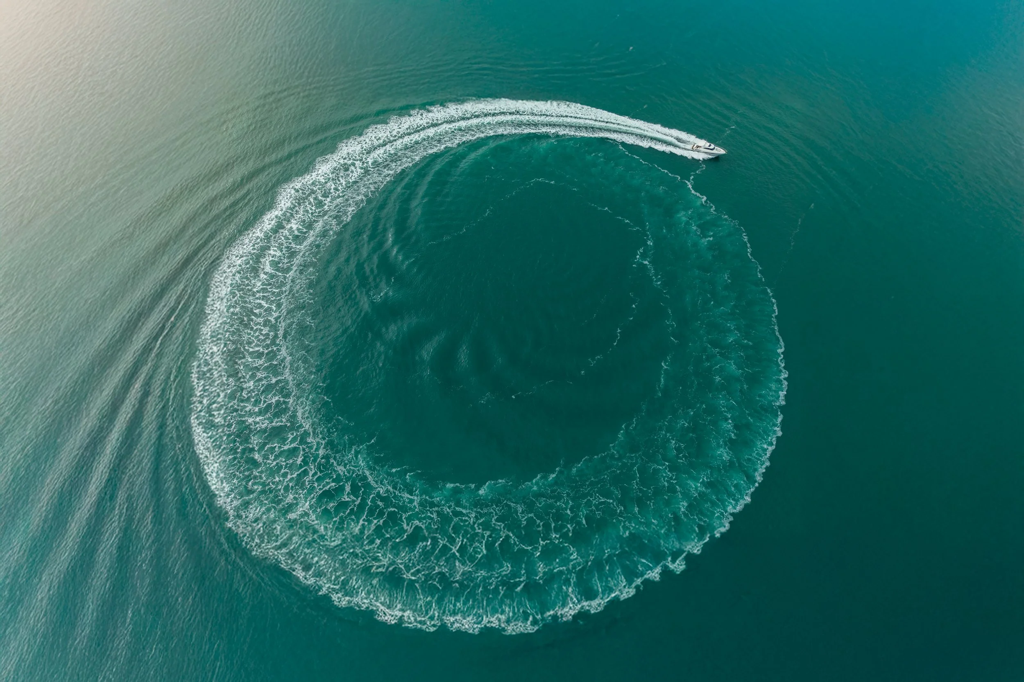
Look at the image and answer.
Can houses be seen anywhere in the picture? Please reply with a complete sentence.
No, I find no house anywhere in the image.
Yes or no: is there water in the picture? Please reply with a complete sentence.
Yes, the picture does contain water.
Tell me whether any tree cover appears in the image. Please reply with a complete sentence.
No, tree cover can't be seen anywhere here.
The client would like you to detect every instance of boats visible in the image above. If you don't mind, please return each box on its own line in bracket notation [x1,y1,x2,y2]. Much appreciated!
[691,140,727,154]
